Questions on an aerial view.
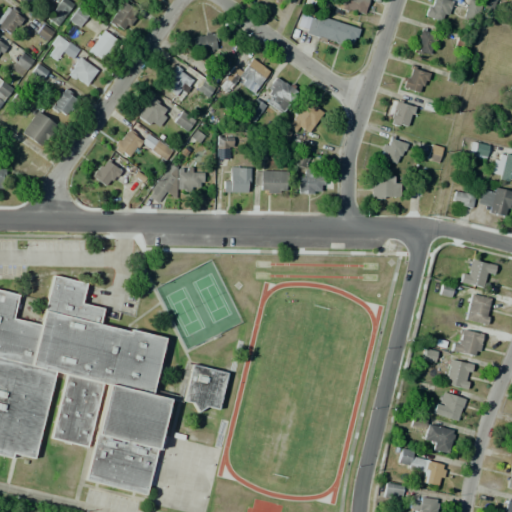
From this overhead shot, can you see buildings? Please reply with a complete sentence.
Yes, there's a building here.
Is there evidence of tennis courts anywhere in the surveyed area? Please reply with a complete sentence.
Yes, there is a tennis court in the image.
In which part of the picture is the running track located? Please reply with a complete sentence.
The running track sits in the bottom section of the image.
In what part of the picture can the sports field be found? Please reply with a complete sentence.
The sports field appears toward the bottom of the photo.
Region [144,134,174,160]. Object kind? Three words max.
house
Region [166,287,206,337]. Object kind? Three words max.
tennis court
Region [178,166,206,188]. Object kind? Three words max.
house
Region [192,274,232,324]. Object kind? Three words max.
tennis court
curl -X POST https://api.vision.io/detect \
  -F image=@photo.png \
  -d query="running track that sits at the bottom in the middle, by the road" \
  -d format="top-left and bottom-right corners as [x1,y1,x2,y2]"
[218,280,384,504]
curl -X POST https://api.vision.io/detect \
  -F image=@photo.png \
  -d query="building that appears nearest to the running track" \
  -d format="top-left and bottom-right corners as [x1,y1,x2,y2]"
[184,365,230,412]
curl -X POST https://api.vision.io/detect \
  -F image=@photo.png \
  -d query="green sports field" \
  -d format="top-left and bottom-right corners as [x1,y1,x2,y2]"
[230,287,370,494]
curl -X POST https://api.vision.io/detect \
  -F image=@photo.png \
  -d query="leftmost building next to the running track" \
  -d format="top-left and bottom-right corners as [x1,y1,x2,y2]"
[0,276,174,495]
